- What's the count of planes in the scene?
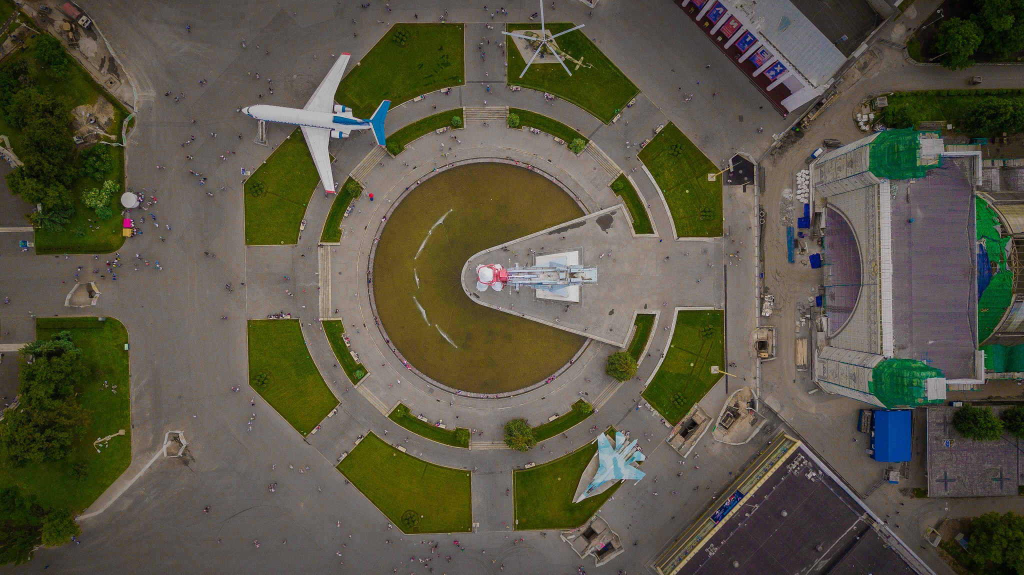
two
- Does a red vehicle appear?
Yes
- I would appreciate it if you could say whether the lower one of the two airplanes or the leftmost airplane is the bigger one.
the leftmost airplane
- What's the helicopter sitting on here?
grass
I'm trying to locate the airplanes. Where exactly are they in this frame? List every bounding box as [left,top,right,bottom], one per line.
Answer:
[576,432,645,503]
[244,52,390,196]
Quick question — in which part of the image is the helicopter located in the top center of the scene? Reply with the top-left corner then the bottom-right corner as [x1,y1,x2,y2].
[502,0,597,77]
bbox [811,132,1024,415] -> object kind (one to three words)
building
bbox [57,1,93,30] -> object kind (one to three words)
truck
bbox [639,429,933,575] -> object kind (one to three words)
building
